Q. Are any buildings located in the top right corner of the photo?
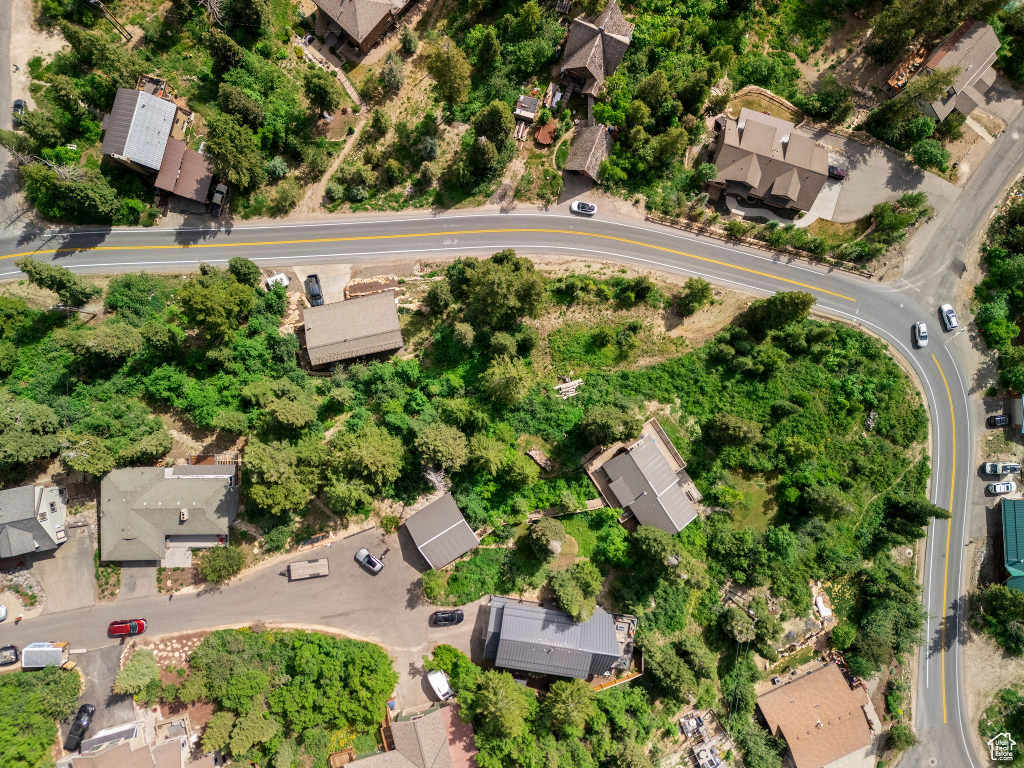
Yes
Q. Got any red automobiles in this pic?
Yes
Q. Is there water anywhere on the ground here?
No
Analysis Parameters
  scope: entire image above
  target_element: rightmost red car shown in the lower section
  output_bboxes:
[107,618,147,638]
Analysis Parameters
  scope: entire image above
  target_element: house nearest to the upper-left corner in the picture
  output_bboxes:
[101,88,198,176]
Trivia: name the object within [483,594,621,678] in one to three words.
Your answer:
house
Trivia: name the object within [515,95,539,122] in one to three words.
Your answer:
shed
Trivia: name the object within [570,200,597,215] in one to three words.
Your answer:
car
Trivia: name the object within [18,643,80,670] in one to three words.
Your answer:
trailer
